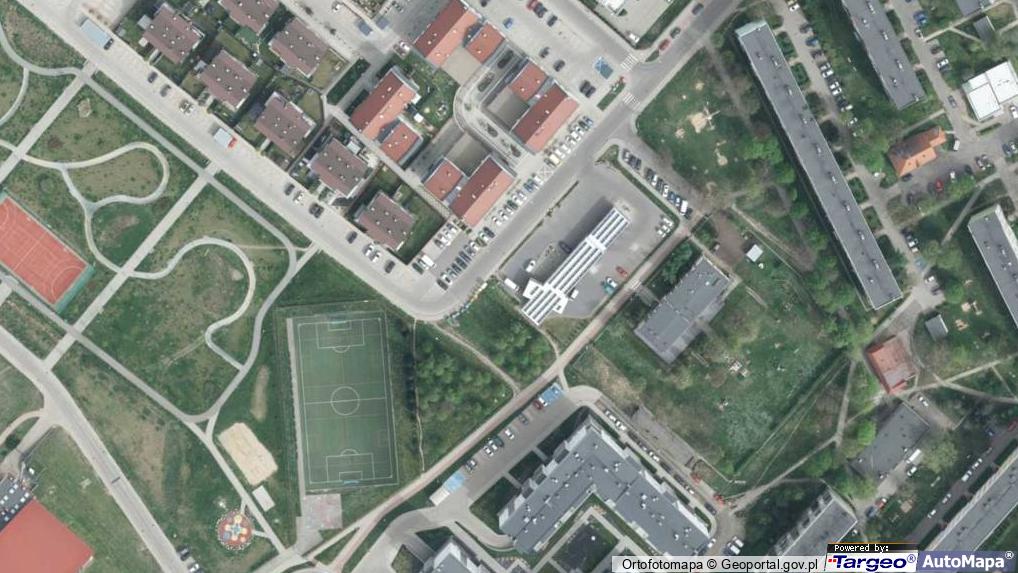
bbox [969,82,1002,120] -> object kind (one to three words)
building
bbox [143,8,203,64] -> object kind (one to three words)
house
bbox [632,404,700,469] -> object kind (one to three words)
building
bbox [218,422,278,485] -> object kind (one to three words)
sports court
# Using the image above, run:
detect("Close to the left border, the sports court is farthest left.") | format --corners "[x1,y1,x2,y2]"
[0,190,94,312]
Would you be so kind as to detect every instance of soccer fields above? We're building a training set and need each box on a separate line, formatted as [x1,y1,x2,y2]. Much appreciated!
[293,314,400,490]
